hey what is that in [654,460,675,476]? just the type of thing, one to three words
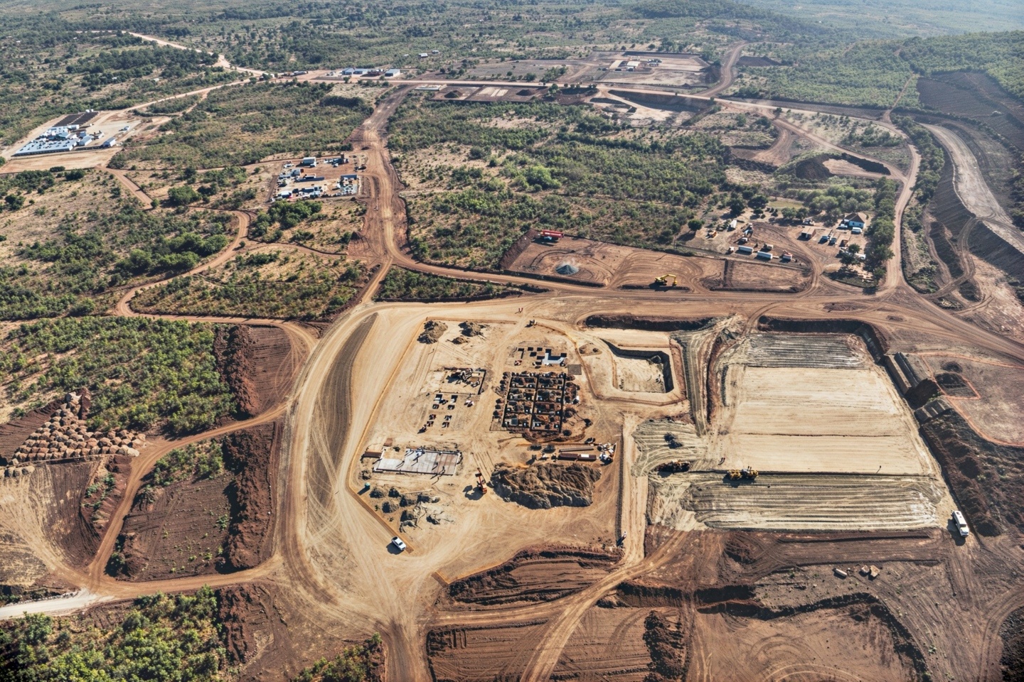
vehicle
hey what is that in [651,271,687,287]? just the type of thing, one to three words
work vehicle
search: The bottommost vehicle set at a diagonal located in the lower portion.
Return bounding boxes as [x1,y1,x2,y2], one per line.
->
[389,535,409,553]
